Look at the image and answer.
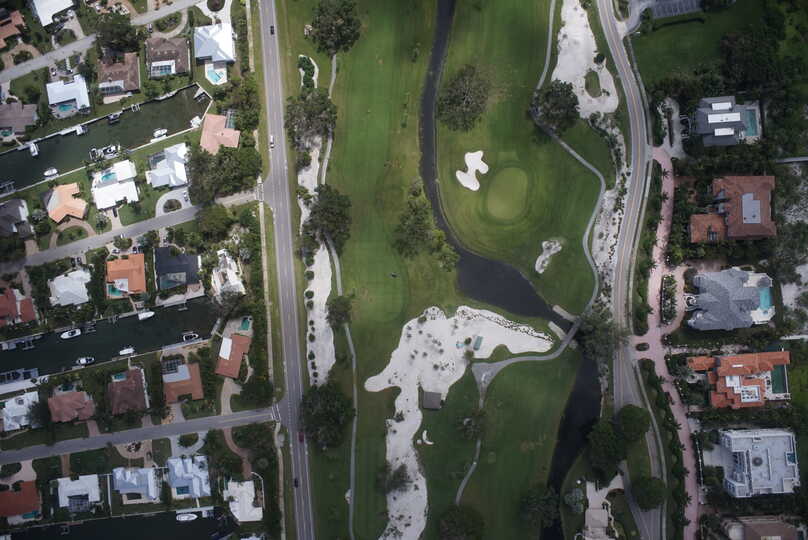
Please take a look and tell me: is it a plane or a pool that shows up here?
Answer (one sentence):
The image shows a pool.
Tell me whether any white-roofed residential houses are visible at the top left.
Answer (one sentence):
Yes, a white-roofed residential house appears at the top left.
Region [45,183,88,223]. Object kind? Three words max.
house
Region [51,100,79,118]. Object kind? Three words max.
swimming pool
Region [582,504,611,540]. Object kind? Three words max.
building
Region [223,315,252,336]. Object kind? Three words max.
swimming pool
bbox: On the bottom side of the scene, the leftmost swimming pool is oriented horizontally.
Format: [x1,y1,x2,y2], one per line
[8,508,41,525]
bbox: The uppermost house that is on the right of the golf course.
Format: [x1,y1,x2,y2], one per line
[692,96,746,148]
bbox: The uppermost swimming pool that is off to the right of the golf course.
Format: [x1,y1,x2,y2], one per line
[740,99,762,147]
